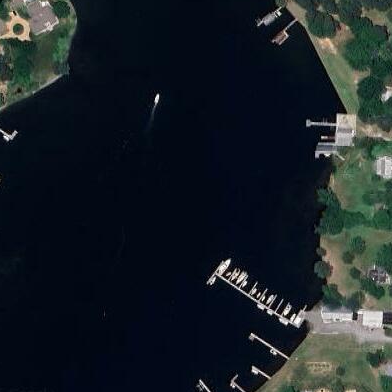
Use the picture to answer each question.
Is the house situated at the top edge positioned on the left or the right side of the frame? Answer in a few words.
left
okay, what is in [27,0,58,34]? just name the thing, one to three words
house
